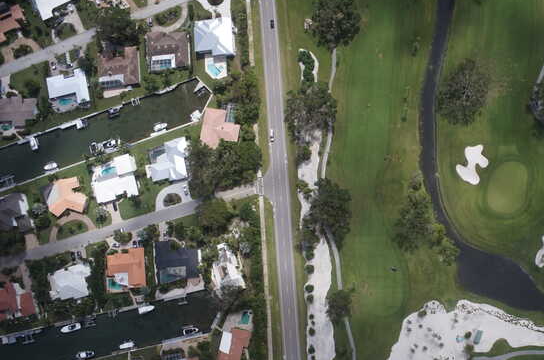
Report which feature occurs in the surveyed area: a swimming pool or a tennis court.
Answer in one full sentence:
Visible in the photo is a swimming pool.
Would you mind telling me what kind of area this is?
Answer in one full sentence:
What you see here is a golf course.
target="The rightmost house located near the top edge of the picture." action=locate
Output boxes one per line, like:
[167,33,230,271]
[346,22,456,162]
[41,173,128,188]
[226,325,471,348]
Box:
[193,17,234,57]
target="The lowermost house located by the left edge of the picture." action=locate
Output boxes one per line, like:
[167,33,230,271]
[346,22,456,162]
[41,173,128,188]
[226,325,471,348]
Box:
[0,283,38,318]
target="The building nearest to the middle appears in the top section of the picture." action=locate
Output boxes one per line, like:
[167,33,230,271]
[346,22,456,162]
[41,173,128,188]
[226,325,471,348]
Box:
[200,106,239,146]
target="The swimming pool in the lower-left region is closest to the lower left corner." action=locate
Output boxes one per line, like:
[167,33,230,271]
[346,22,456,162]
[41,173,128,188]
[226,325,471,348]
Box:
[106,276,131,294]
